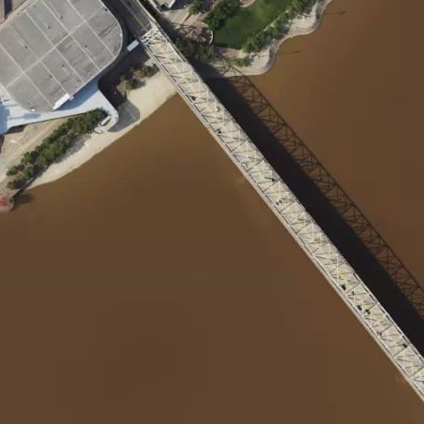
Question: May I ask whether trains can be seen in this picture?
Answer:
No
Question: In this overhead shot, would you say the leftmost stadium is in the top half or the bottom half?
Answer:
top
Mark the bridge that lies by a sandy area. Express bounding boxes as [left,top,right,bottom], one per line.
[135,22,424,400]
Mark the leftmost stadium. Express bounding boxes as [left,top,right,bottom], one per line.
[0,0,124,134]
